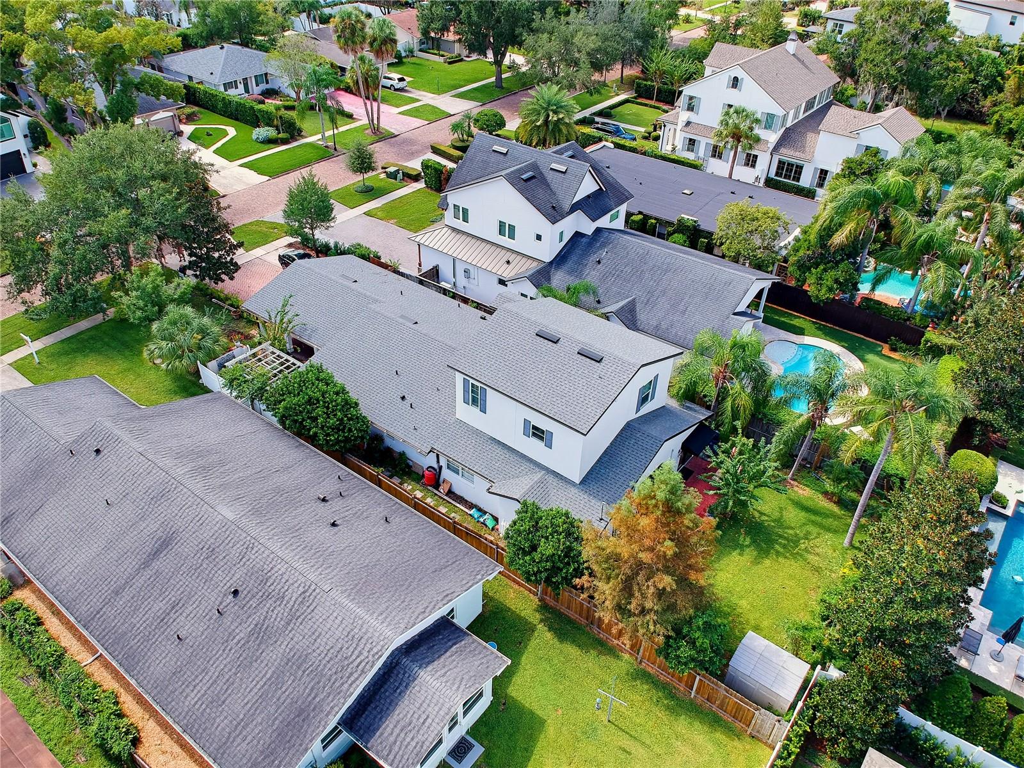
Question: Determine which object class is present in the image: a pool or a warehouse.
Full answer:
Of the two, only a pool appears.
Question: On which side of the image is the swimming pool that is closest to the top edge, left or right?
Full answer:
It is on the right.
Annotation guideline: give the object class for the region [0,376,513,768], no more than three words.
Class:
house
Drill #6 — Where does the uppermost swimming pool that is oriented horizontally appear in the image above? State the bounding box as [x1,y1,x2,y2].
[852,260,958,311]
